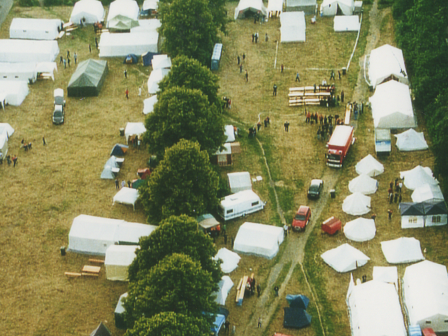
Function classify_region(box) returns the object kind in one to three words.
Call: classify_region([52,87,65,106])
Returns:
vehicle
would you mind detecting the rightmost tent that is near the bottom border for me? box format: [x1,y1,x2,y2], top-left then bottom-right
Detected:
[400,259,448,332]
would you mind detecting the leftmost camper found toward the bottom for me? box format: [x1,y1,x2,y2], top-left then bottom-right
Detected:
[223,193,269,218]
